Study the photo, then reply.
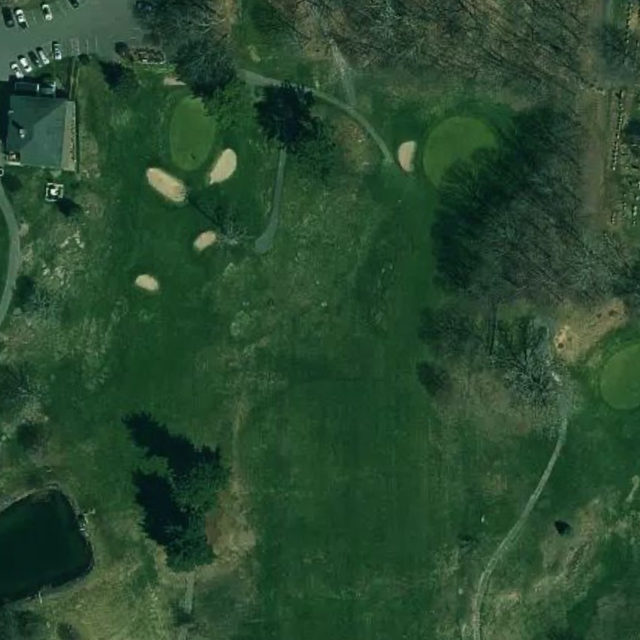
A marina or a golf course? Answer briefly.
golf course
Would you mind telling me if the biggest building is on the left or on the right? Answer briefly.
left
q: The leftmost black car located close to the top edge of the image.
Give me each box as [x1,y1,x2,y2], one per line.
[1,8,14,27]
